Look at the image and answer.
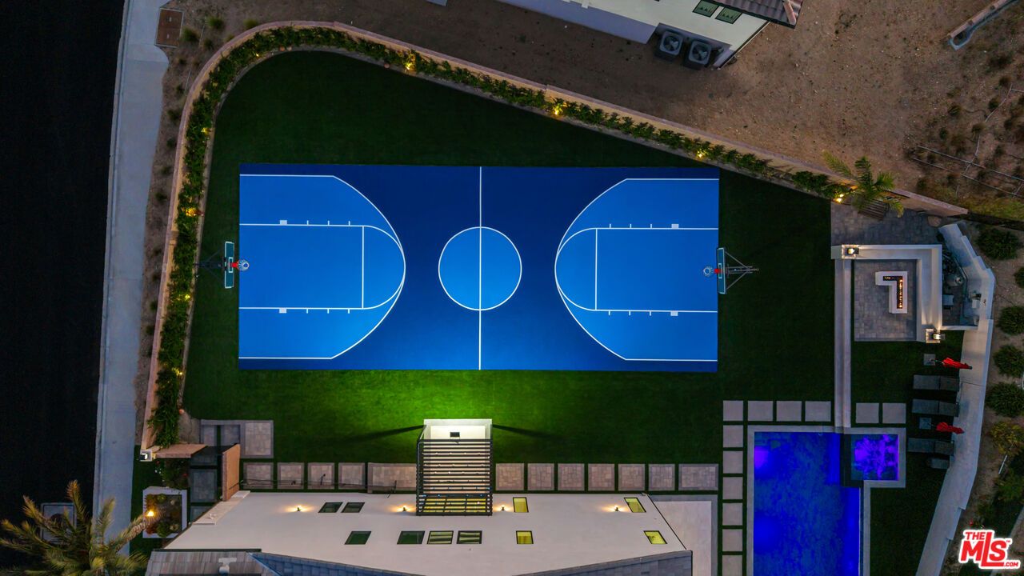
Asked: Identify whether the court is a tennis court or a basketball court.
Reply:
basketball court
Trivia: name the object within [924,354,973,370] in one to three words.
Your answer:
umbrella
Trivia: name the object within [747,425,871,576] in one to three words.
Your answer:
swimming pool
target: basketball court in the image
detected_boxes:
[239,164,719,372]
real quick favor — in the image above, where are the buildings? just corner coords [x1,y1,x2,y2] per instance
[148,489,695,576]
[494,0,803,66]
